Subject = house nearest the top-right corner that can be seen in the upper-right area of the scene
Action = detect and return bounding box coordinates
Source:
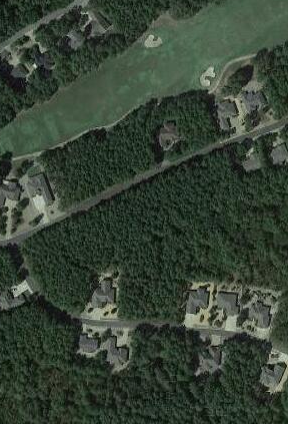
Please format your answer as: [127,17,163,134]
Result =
[240,87,266,111]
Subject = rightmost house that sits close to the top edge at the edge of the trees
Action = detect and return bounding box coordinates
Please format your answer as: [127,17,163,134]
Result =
[84,14,107,39]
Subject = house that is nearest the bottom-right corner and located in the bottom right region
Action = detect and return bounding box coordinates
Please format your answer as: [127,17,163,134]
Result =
[259,362,285,386]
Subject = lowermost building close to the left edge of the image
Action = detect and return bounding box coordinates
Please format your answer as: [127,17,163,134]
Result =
[0,291,26,312]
